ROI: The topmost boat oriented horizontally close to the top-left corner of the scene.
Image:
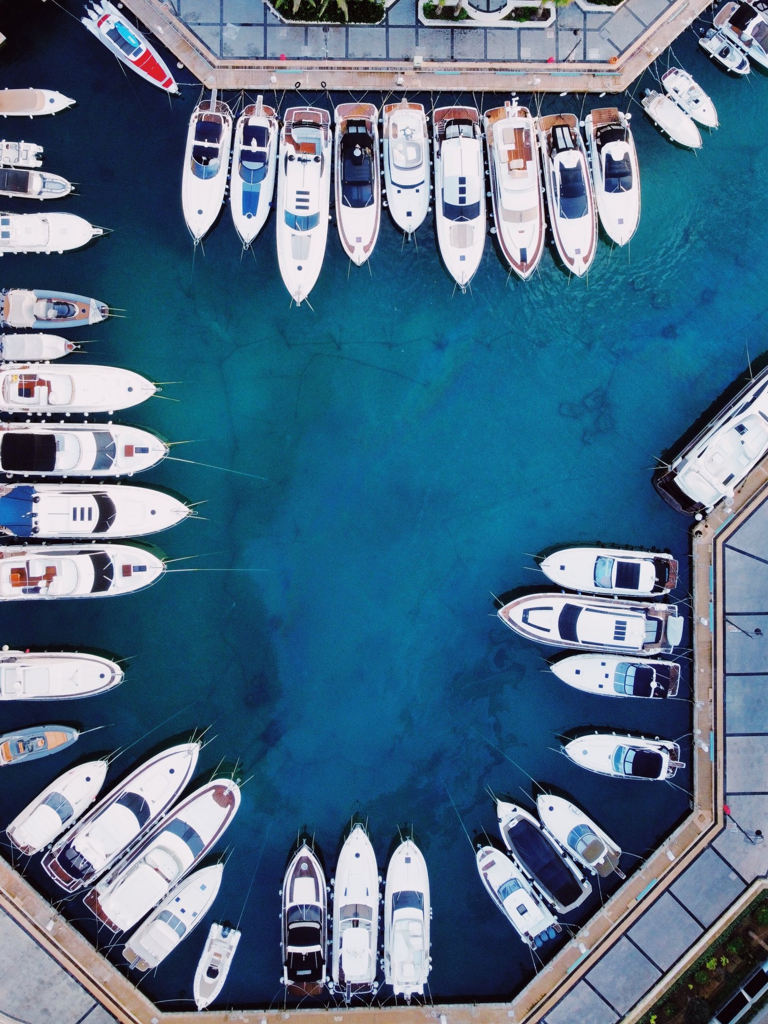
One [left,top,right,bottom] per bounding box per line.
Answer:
[0,88,76,117]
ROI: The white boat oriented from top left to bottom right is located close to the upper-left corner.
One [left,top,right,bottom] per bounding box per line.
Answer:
[84,0,182,97]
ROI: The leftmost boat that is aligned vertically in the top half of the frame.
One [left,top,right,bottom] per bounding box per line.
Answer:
[180,89,231,246]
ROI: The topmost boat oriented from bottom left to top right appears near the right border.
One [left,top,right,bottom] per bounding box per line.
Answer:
[656,360,768,511]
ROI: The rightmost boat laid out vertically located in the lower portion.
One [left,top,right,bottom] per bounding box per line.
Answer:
[667,613,684,648]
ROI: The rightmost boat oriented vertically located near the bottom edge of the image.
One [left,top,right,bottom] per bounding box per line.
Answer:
[385,834,432,1006]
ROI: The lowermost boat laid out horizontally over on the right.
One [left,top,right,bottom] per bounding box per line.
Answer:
[559,731,685,782]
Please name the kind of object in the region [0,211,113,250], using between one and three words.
boat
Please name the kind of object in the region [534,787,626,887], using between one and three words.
boat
